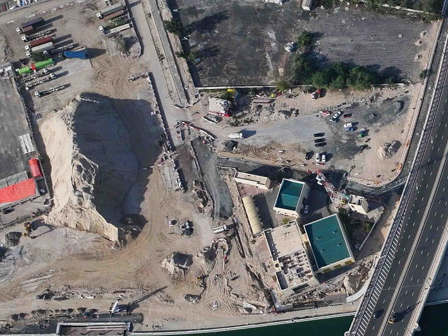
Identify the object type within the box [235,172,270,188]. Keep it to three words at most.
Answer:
house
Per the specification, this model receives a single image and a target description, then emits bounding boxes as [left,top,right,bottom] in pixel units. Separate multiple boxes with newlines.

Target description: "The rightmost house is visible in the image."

[348,194,383,222]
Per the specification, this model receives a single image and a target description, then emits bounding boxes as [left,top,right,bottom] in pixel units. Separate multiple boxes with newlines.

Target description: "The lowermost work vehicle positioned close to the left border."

[19,219,33,234]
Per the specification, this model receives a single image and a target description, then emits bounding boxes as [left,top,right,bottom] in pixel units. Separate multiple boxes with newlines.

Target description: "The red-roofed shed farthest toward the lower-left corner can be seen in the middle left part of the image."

[0,179,43,209]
